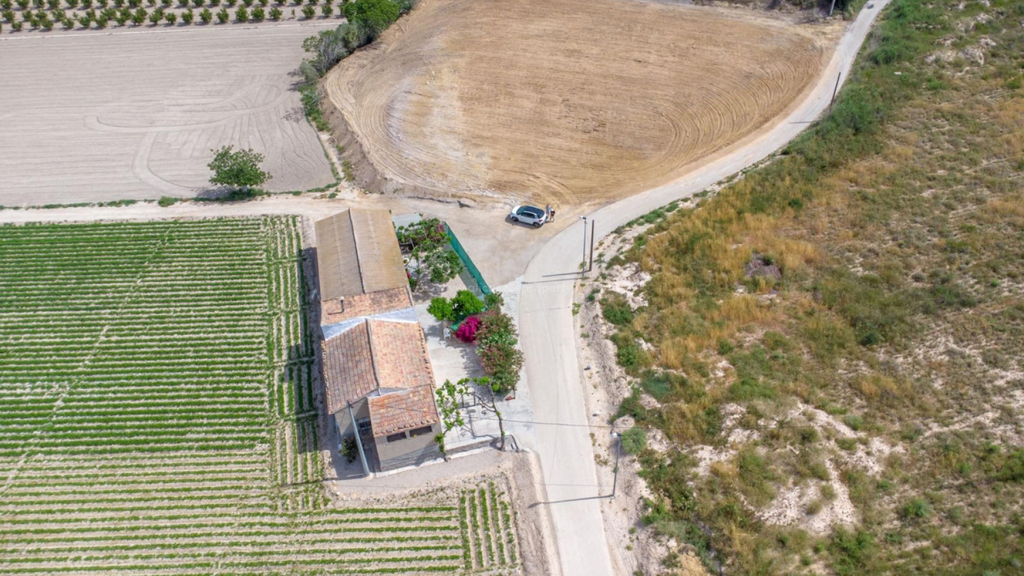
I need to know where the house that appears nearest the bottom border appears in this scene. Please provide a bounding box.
[319,282,445,479]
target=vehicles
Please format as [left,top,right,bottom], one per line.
[508,210,545,231]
